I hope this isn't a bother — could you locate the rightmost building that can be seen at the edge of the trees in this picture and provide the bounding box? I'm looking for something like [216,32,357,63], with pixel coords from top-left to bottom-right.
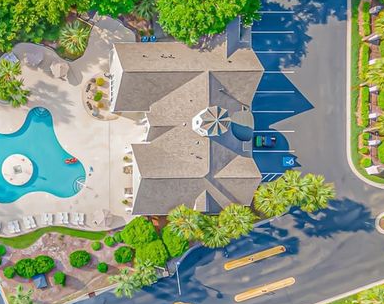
[106,12,266,214]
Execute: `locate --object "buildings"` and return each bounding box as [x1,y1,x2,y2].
[106,12,266,214]
[33,274,47,288]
